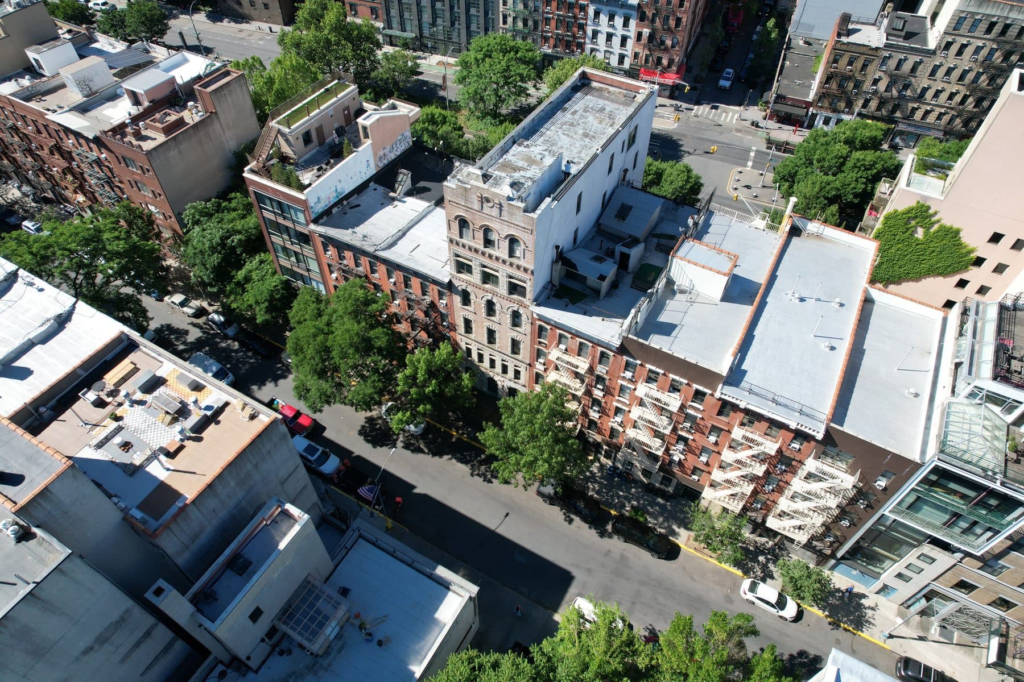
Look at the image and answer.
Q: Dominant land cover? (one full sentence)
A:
The bulk of the photo consists of buildings.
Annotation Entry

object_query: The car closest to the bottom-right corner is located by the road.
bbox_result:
[889,651,957,682]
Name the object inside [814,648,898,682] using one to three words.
truck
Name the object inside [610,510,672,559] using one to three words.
car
